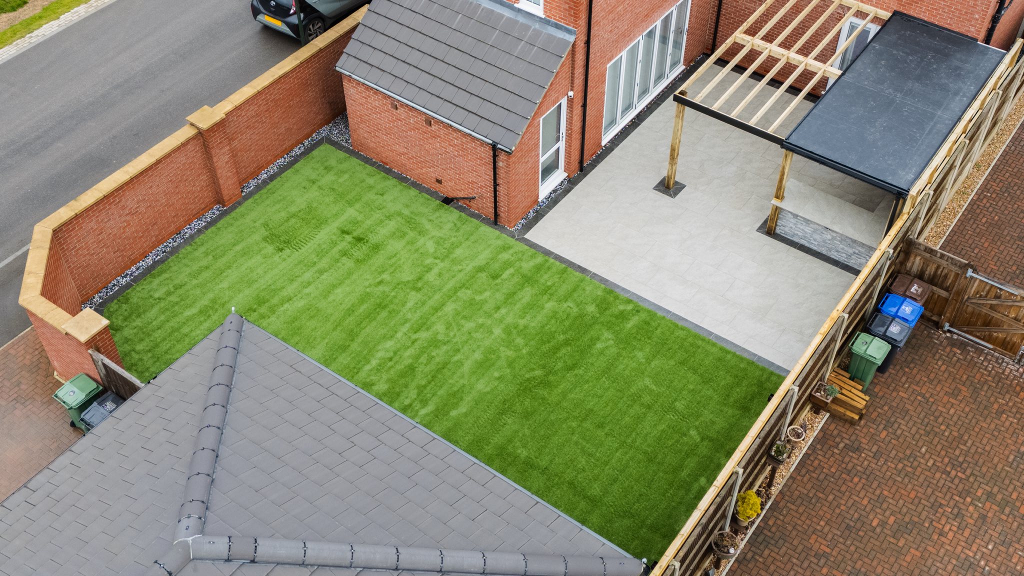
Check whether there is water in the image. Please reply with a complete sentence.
No, no water is visible.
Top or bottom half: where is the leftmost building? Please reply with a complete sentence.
You can find the leftmost building in the bottom half.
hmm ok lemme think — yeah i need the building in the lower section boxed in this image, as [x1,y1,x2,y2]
[0,307,645,576]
